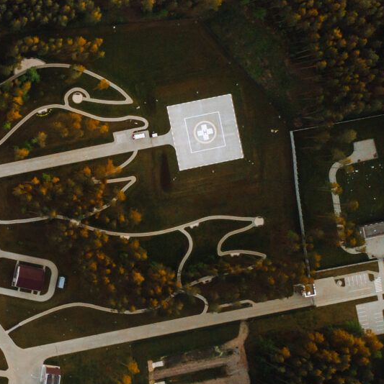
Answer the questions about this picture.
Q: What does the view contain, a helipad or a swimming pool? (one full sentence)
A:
The image shows a helipad.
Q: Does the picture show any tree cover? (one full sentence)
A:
Yes, the picture does contain tree cover.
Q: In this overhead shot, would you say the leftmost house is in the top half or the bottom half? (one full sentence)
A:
The leftmost house is in the bottom half of the image.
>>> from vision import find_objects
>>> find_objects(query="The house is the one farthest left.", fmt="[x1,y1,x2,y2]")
[12,264,44,292]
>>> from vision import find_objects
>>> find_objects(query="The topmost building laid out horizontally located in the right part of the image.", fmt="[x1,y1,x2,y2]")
[358,222,384,237]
